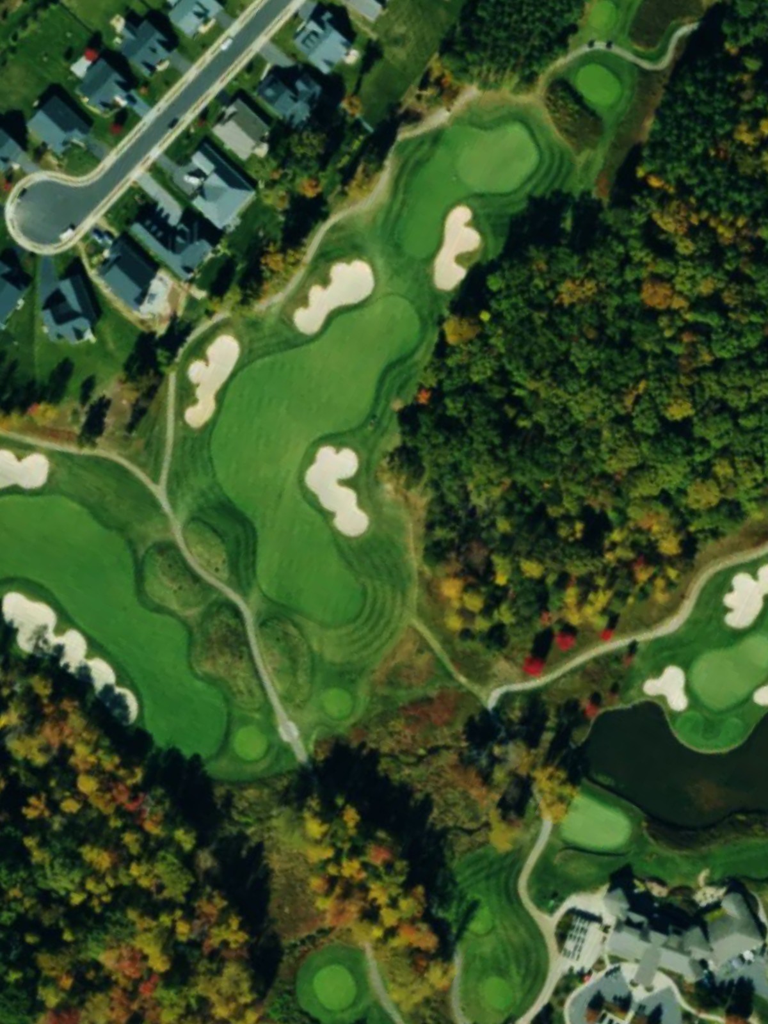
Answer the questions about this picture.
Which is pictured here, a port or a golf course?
golf course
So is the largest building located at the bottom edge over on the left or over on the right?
right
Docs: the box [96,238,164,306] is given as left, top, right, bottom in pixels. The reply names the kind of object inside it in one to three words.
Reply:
house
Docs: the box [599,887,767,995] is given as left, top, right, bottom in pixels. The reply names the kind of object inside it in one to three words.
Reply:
building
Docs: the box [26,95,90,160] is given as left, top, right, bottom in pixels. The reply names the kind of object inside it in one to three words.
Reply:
house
